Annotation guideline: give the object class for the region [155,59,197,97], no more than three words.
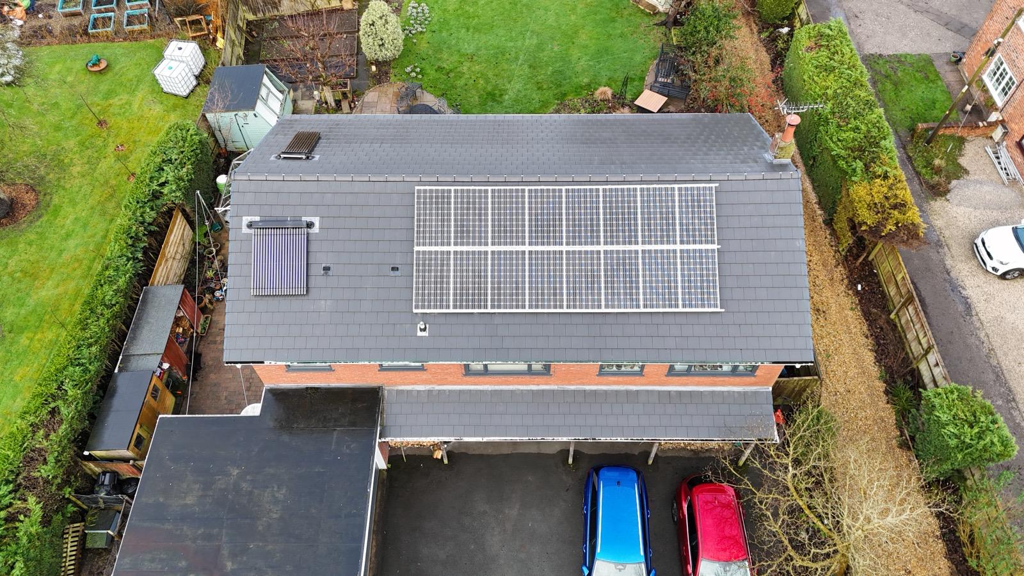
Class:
water tank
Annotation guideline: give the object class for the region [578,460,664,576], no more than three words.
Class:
car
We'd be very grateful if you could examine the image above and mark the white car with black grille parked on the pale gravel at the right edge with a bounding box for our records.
[972,207,1024,279]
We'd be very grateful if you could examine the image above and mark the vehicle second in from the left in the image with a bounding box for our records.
[673,477,759,576]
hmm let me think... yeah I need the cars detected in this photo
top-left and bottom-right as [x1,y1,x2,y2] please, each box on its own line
[578,460,664,576]
[972,207,1024,279]
[673,477,759,576]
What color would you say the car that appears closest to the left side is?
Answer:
blue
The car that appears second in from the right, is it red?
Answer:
Yes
